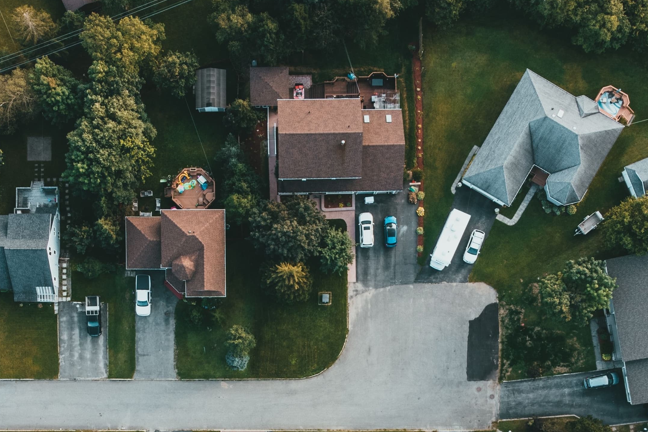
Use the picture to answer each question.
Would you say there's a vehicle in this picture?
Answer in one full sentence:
Yes, I can see a vehicle in this picture.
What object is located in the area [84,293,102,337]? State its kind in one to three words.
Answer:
vehicle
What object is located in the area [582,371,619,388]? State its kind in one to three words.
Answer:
car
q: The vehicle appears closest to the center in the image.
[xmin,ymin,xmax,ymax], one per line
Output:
[358,212,375,248]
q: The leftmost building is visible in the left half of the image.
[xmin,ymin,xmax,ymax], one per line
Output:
[0,213,57,303]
